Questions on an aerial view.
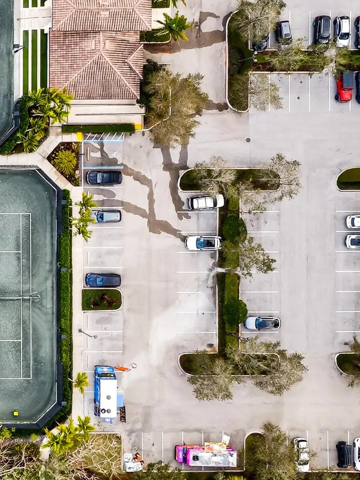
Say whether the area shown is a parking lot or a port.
parking lot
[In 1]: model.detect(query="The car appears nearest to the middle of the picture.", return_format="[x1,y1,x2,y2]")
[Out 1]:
[185,236,222,251]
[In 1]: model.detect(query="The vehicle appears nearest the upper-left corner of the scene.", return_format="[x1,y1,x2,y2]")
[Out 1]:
[86,170,124,186]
